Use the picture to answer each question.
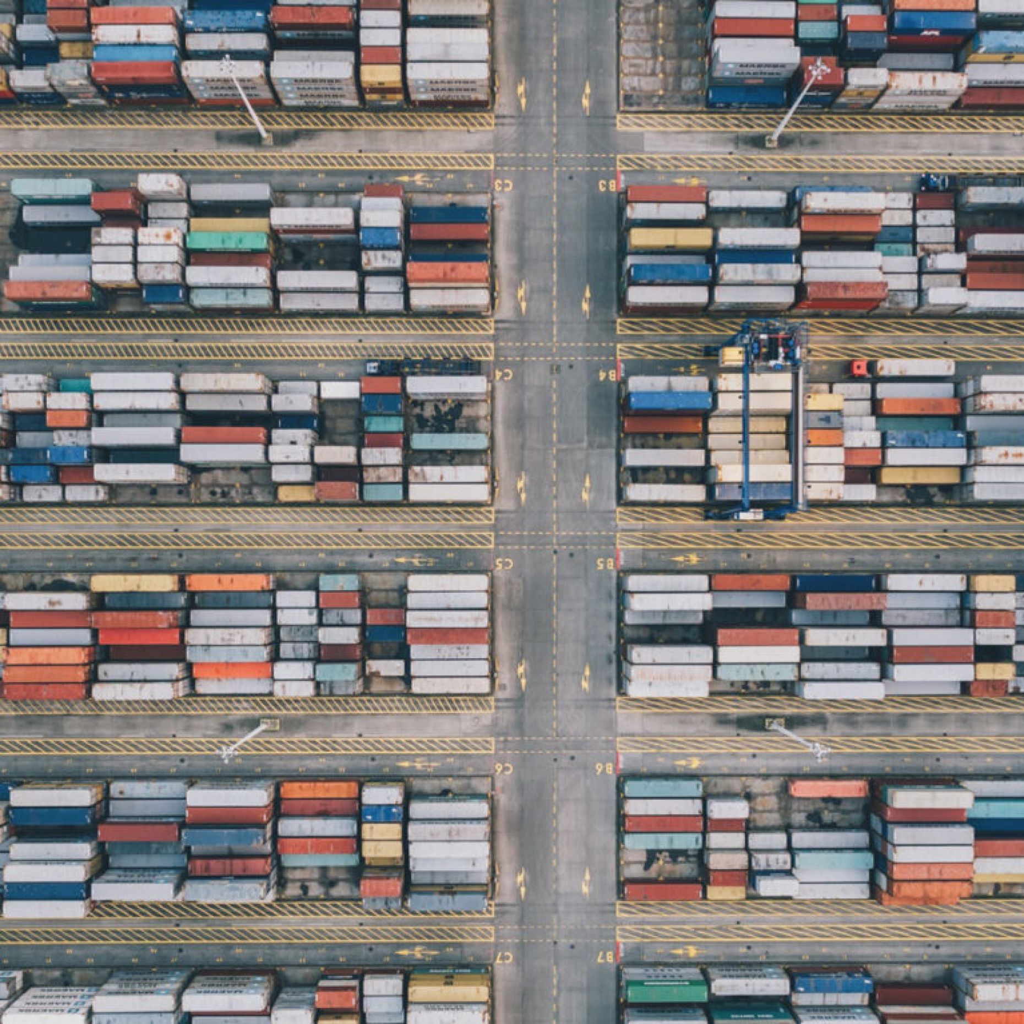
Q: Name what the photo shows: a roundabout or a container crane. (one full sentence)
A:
Visible in the photo is a container crane.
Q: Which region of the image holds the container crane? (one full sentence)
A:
Look in the right portion of the view to spot the container crane.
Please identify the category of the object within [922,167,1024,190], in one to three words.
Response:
truck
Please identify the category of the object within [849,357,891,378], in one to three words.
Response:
truck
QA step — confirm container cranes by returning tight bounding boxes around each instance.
[703,316,817,519]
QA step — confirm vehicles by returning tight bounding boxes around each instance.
[366,355,476,376]
[849,357,891,378]
[922,167,1024,190]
